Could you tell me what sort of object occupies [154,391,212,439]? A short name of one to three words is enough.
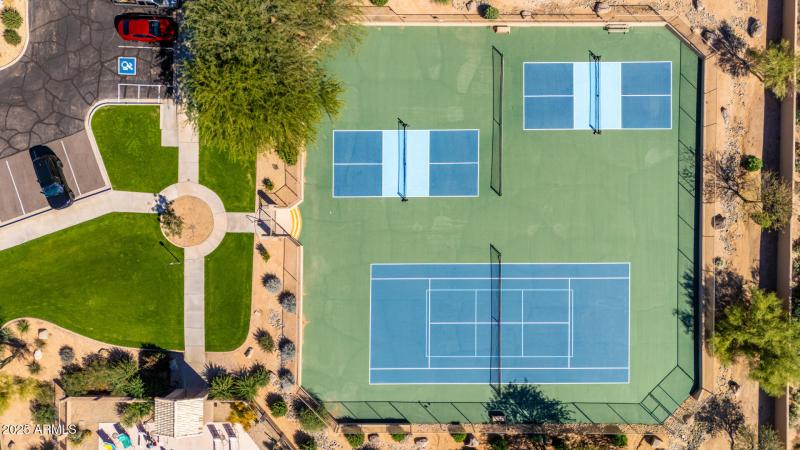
building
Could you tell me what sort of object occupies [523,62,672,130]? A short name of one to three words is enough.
sports court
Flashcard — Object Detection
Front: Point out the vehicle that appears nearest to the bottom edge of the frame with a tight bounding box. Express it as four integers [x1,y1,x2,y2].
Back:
[32,148,73,205]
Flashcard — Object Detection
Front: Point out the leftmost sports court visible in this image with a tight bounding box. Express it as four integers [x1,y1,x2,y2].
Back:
[333,129,479,198]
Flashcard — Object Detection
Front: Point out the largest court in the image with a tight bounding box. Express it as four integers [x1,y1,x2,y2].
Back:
[370,263,630,384]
